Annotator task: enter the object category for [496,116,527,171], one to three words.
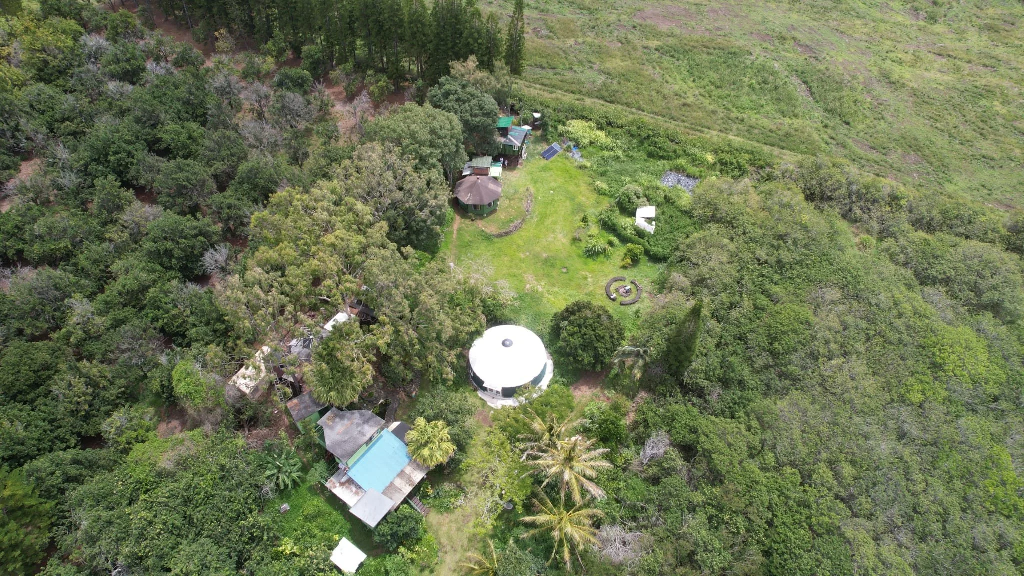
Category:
house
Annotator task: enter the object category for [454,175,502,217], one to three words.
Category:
house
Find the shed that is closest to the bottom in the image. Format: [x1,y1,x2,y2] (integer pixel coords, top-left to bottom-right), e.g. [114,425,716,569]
[331,537,368,574]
